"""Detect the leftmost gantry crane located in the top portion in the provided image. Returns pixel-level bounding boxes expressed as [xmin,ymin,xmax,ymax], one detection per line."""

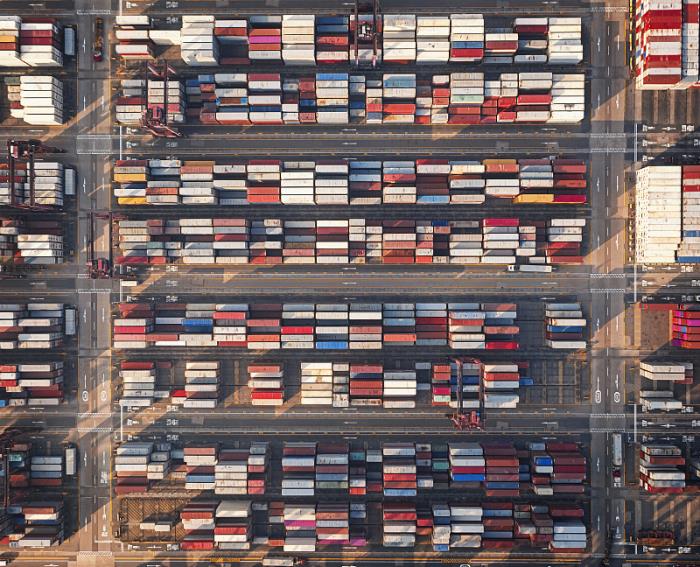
[5,138,64,213]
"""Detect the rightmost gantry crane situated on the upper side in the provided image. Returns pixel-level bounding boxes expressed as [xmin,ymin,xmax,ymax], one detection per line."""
[347,0,382,71]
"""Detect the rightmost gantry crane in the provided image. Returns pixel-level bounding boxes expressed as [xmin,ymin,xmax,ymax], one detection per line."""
[445,356,484,429]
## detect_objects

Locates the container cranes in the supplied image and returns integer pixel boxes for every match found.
[5,138,64,213]
[84,209,137,279]
[139,58,188,137]
[445,356,484,429]
[347,0,382,71]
